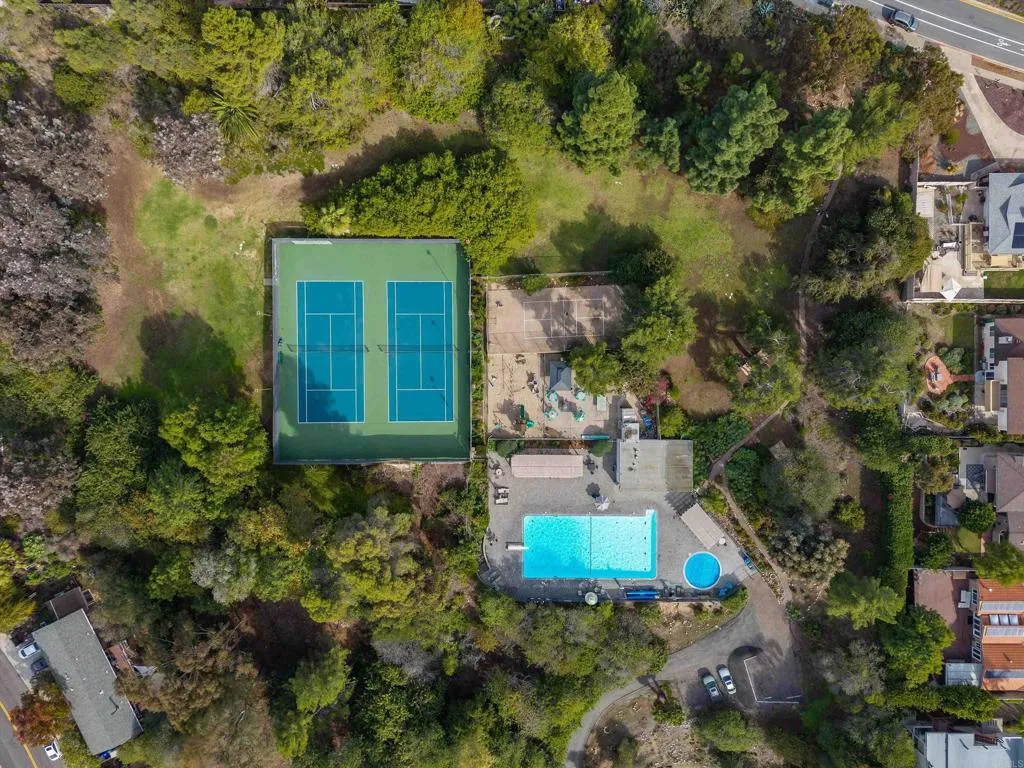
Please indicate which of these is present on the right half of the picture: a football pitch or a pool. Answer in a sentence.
Visible on the right half of the picture is a pool.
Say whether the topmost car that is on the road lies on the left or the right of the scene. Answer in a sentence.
You can find the topmost car that is on the road on the right side of the picture.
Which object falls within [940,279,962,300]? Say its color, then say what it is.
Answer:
white umbrella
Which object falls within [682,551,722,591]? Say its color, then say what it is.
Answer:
blue swimming pool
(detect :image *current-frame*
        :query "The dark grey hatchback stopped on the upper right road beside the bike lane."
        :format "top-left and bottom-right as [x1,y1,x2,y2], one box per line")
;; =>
[891,7,920,29]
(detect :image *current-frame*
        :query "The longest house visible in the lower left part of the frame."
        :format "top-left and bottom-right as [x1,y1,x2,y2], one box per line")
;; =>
[32,583,145,754]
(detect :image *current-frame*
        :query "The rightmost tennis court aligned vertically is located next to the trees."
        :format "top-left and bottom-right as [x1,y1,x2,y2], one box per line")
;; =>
[375,242,469,461]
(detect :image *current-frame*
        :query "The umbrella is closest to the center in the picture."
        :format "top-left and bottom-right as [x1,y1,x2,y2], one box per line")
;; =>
[595,497,609,510]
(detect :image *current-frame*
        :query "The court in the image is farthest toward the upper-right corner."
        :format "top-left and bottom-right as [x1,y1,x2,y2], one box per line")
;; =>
[487,284,625,352]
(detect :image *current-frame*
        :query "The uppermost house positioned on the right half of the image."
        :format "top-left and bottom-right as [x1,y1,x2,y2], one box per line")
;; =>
[978,174,1024,255]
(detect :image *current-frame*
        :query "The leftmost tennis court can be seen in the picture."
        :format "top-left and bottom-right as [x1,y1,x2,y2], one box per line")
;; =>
[278,243,376,461]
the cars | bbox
[13,641,41,661]
[24,657,49,676]
[891,7,920,29]
[718,667,738,696]
[702,673,725,702]
[39,738,61,765]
